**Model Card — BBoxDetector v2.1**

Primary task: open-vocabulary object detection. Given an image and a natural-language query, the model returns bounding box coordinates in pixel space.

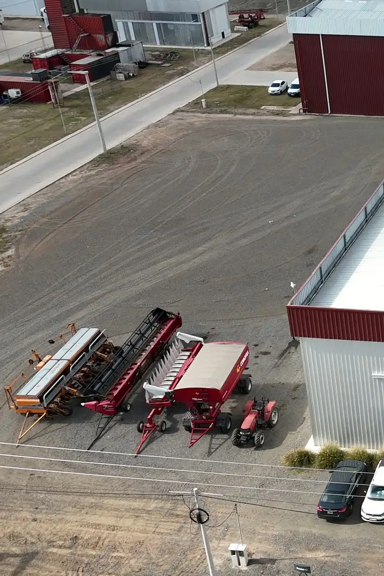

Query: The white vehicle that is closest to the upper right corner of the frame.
[287,79,300,95]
